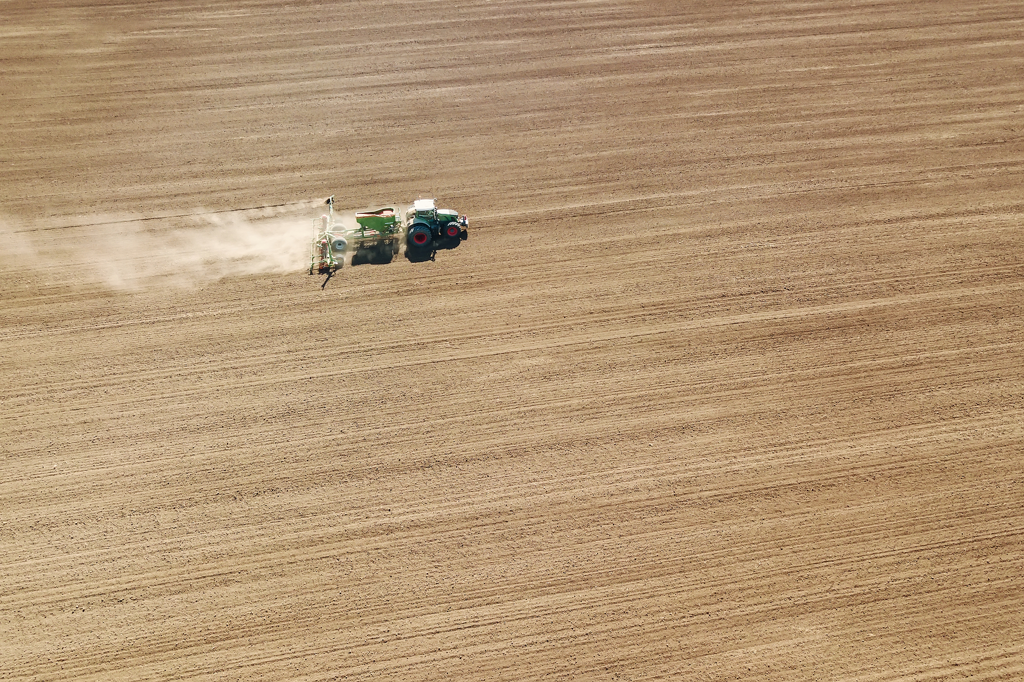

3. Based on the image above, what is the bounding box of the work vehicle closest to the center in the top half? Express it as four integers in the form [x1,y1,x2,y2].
[404,195,469,248]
